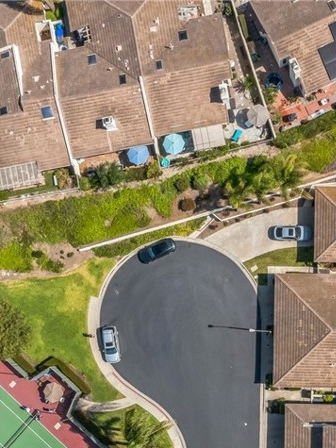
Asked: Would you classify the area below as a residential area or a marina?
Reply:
residential area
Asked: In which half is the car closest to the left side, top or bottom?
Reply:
bottom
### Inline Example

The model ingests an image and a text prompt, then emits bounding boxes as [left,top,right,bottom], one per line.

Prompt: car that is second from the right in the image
[138,236,177,263]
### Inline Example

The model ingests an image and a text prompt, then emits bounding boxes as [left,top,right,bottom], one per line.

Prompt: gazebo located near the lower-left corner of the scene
[43,380,70,404]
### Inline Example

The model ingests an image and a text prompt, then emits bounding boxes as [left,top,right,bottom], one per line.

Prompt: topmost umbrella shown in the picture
[244,106,266,129]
